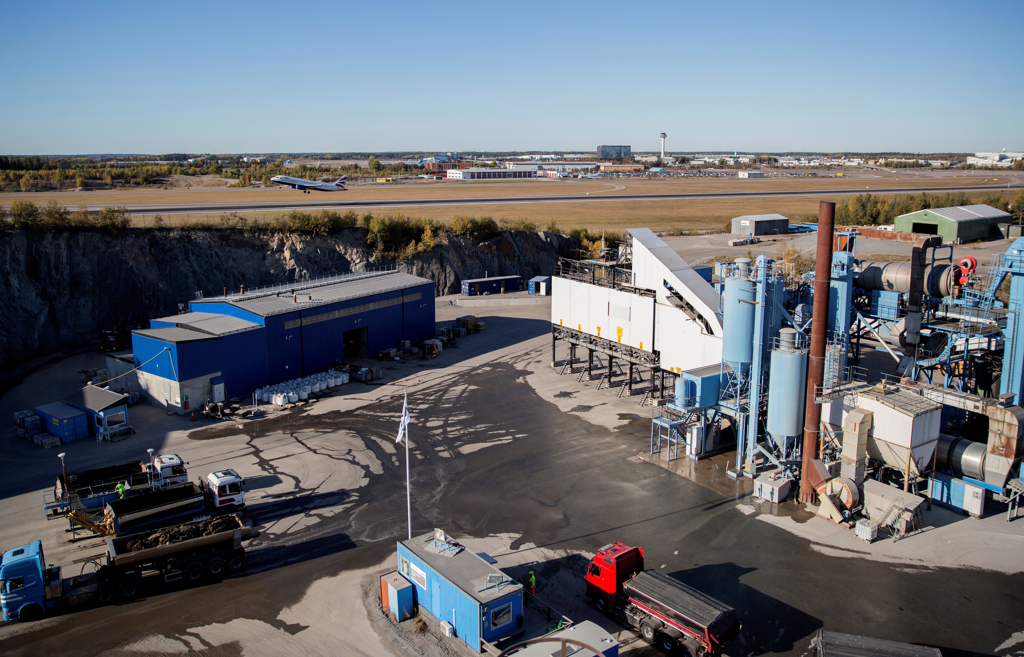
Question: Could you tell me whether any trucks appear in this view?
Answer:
Yes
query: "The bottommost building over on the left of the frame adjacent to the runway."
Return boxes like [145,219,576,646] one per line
[101,261,437,414]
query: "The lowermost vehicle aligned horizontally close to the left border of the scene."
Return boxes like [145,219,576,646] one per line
[0,512,254,626]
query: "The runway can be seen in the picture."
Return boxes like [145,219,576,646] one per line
[1,184,1024,218]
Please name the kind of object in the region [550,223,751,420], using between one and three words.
building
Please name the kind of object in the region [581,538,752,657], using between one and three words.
truck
